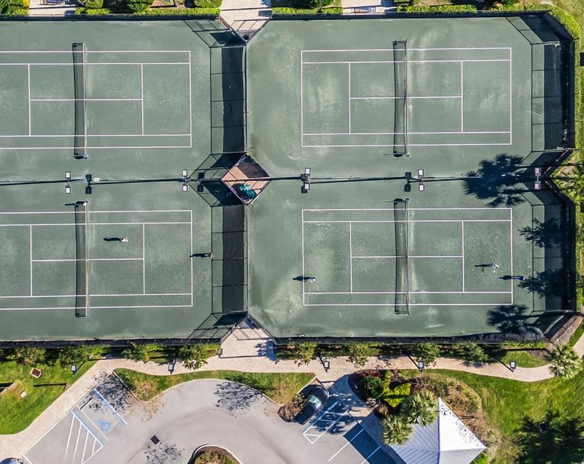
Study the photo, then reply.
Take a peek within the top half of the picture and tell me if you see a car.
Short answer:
No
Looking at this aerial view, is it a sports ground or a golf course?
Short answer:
sports ground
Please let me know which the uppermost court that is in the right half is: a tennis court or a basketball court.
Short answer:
tennis court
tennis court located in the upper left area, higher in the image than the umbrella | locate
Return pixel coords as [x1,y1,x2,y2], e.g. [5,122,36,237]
[0,19,247,182]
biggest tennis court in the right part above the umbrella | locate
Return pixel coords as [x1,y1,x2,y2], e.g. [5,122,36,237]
[247,16,564,178]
